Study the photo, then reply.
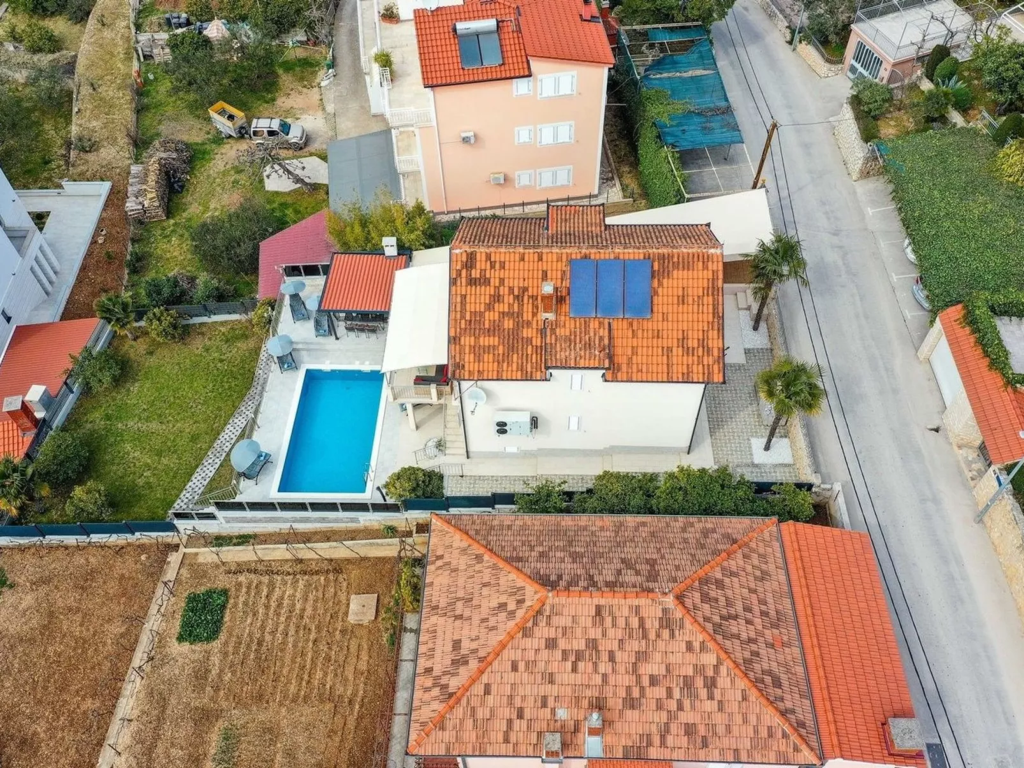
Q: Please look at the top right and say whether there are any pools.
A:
No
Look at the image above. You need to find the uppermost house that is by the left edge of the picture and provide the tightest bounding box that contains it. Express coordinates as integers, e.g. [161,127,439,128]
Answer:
[0,177,66,316]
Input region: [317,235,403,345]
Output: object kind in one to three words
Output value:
building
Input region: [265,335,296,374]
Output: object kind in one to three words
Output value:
umbrella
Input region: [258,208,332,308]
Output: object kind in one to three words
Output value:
shed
